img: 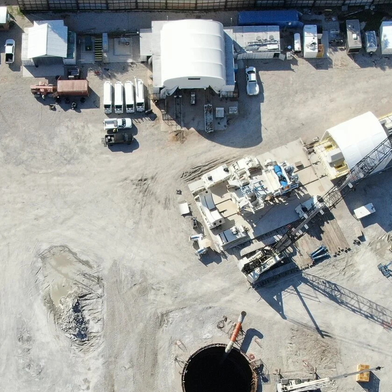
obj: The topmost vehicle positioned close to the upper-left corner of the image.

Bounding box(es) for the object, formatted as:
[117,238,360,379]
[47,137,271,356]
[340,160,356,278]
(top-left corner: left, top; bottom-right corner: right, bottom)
[3,38,16,67]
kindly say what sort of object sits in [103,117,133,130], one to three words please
vehicle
